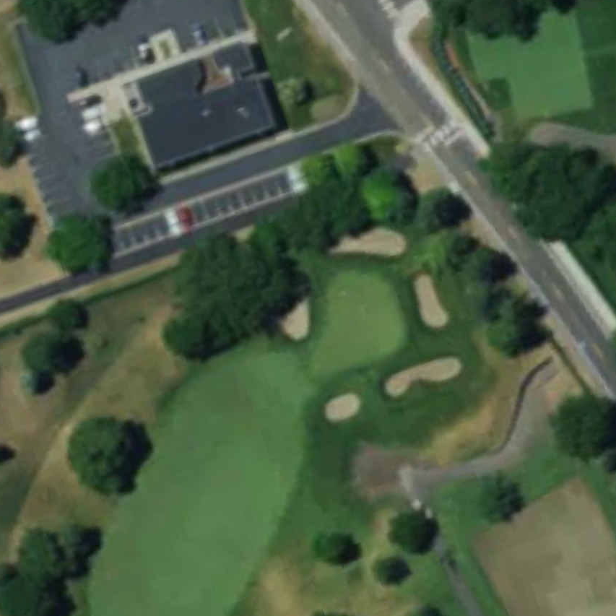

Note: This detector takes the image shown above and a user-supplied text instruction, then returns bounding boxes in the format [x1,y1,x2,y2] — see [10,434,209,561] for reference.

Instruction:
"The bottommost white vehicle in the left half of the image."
[166,209,181,235]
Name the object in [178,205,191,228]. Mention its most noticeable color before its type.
red vehicle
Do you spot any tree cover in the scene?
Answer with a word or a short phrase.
Yes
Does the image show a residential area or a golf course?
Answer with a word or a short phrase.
golf course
